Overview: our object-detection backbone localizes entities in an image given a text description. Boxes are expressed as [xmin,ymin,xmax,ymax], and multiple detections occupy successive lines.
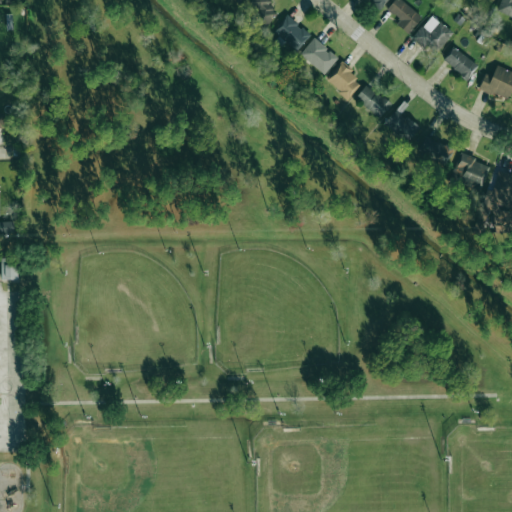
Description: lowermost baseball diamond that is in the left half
[64,426,249,512]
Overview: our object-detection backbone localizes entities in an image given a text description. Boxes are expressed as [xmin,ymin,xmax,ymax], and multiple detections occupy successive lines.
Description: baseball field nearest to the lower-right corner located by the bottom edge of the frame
[448,425,512,512]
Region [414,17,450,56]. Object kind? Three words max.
house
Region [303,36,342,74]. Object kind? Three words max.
house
